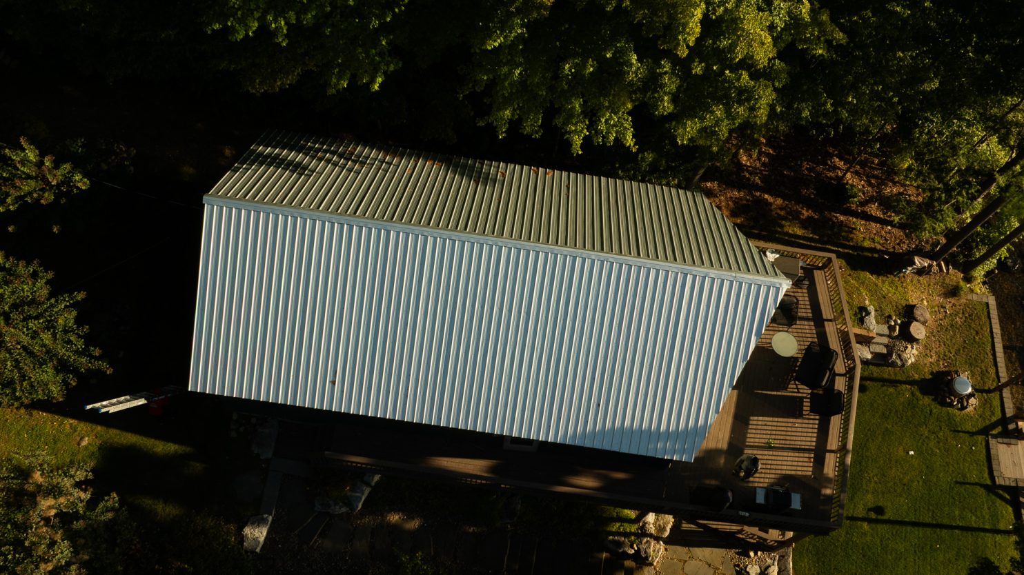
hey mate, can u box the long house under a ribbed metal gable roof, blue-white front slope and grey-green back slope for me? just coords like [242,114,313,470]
[188,128,794,462]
